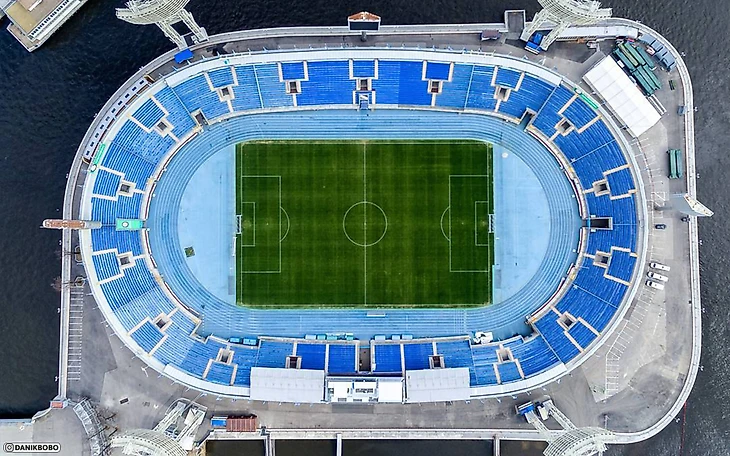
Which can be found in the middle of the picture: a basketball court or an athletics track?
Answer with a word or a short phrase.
athletics track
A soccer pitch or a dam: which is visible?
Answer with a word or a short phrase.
soccer pitch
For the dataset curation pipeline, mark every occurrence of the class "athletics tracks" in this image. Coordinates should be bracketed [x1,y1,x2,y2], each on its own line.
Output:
[143,110,587,345]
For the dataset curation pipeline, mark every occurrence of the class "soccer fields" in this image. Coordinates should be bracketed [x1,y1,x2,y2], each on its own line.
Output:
[235,139,493,310]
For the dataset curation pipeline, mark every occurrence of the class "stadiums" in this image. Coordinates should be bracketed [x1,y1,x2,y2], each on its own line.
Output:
[74,42,654,408]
